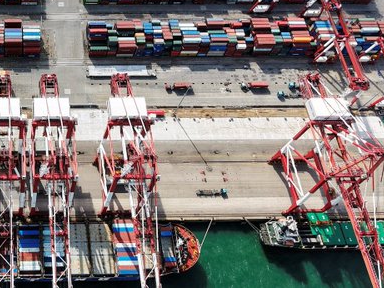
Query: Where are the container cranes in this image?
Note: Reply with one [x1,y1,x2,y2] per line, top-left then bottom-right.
[244,0,279,18]
[28,76,81,288]
[267,76,384,288]
[0,76,27,288]
[304,34,372,108]
[92,76,169,288]
[293,0,354,62]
